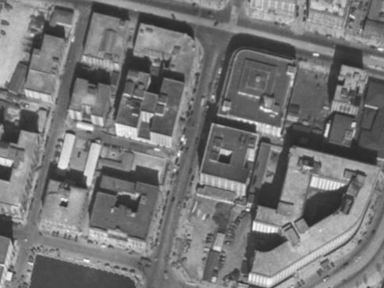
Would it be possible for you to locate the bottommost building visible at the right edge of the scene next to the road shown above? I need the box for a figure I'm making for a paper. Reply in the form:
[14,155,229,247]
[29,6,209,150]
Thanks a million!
[249,146,380,288]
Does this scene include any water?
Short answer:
No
